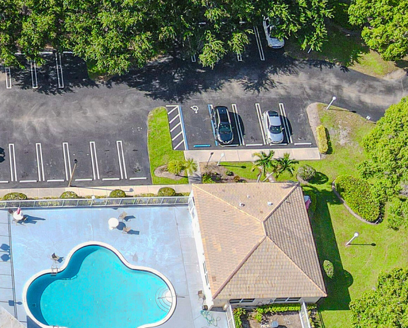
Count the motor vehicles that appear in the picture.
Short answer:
three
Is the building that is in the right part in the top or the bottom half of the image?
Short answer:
bottom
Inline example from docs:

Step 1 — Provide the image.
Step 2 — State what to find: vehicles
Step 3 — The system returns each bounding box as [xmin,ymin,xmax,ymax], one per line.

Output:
[211,107,236,145]
[260,12,282,46]
[262,110,285,146]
